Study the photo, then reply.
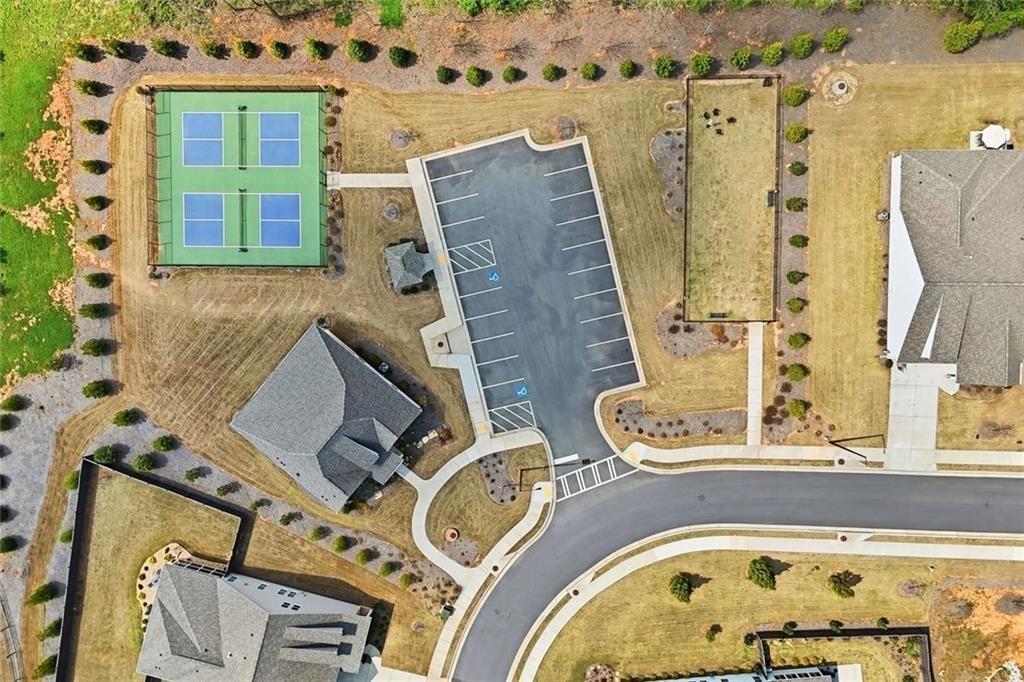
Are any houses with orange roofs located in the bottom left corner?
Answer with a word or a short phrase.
No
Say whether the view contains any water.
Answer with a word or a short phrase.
No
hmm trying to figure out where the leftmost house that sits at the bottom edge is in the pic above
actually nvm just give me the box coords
[134,549,373,682]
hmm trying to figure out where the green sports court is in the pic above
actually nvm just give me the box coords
[157,90,327,265]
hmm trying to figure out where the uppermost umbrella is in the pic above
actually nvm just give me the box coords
[974,125,1003,149]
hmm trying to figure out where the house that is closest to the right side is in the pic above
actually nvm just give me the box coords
[889,150,1024,387]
